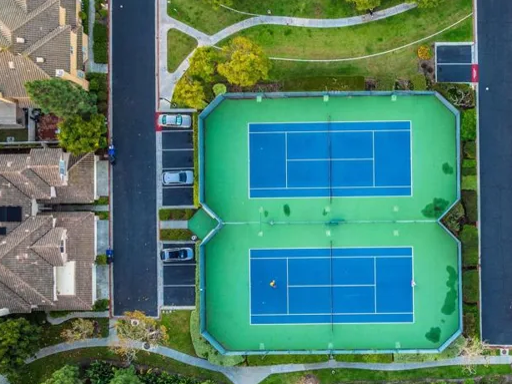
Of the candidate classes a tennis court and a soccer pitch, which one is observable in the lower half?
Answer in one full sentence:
Visible in the lower half is a tennis court.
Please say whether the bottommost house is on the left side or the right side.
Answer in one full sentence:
You can find the bottommost house on the left side of the picture.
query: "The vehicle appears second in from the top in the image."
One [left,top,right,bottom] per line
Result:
[163,170,193,184]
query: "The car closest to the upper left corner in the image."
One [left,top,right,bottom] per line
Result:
[159,114,193,129]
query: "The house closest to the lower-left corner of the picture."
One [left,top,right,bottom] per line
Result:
[0,149,98,316]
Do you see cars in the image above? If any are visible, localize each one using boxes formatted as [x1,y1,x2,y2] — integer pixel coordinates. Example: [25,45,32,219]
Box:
[163,170,193,184]
[163,246,195,261]
[159,114,193,129]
